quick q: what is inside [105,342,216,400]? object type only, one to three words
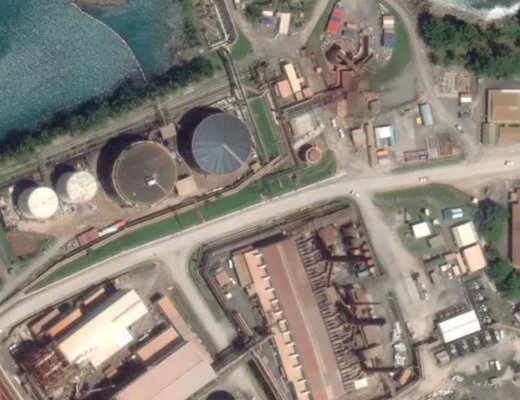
building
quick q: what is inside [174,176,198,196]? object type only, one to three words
shed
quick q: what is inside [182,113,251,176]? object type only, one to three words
storage tank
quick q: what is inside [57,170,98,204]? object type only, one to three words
storage tank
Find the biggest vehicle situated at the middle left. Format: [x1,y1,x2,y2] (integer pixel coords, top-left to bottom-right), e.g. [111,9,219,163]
[98,220,126,237]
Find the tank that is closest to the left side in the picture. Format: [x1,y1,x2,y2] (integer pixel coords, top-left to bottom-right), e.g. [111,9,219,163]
[18,185,59,220]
